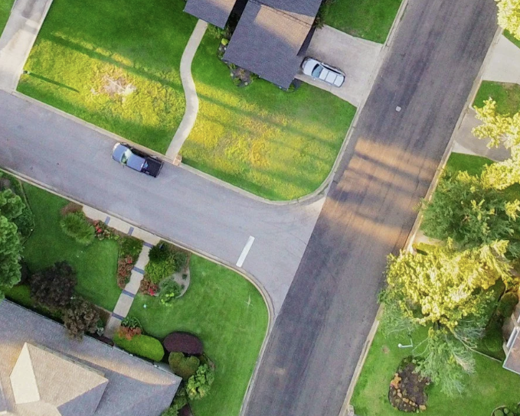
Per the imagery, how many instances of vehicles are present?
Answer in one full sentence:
In total, 2 vehicles can be seen.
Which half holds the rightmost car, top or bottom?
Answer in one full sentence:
Seen from above, the rightmost car lies in the top half of the view.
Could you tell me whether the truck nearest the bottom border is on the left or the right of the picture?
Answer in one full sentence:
The truck nearest the bottom border appears in the left half of the scene.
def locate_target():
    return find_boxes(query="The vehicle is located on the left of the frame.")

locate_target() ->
[108,140,167,181]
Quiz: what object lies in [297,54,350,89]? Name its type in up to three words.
car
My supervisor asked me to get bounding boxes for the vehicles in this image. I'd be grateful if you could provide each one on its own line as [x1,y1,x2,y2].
[108,140,167,181]
[297,54,350,89]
